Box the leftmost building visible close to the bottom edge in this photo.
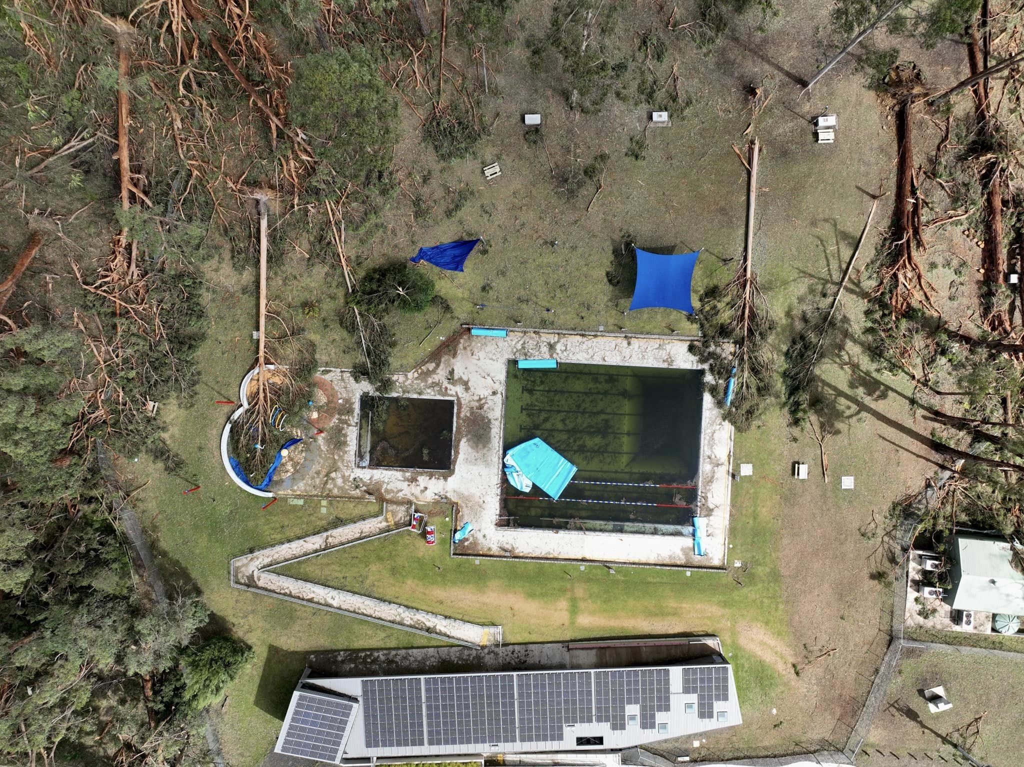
[273,655,743,767]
